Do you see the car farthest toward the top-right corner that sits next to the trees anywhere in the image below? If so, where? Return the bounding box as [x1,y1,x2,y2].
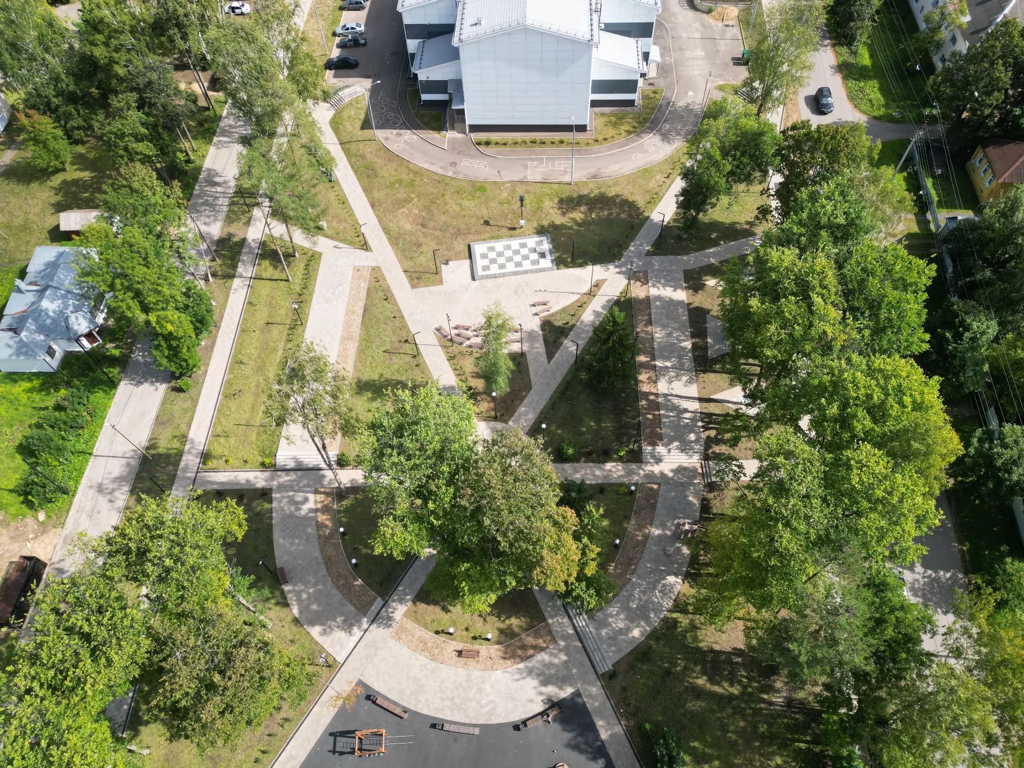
[814,85,836,114]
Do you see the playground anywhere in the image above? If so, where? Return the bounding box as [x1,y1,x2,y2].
[299,678,617,768]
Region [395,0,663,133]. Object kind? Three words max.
building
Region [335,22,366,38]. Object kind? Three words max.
car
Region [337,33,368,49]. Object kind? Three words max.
car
